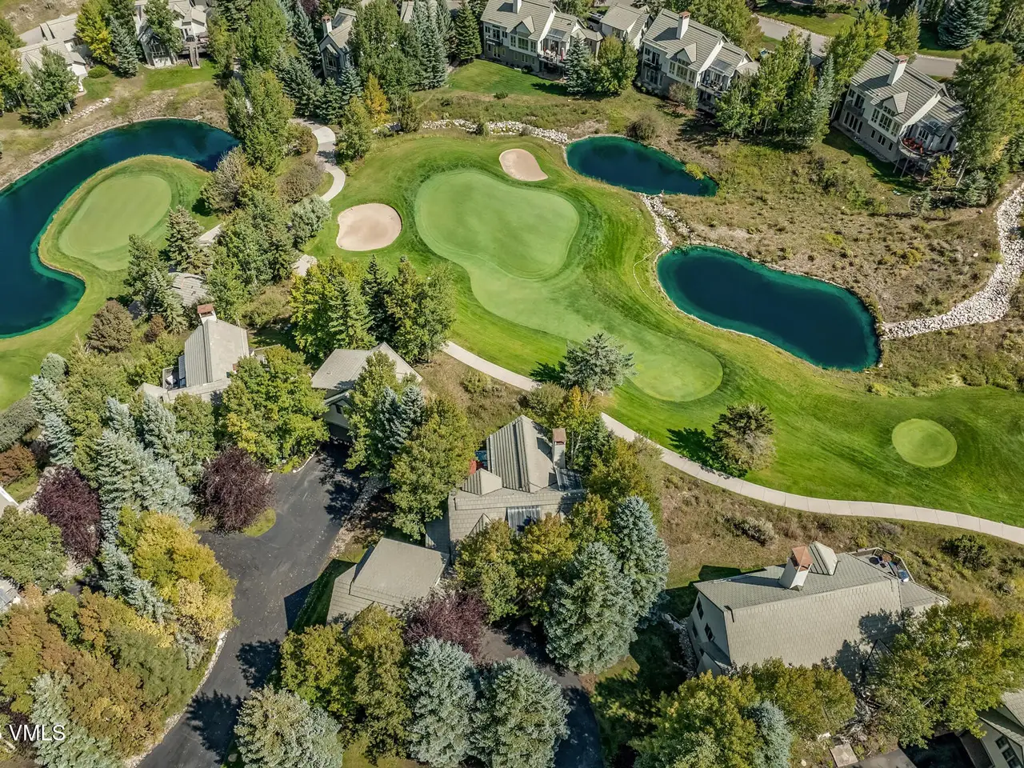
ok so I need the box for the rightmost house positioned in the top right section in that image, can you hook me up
[840,50,980,172]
